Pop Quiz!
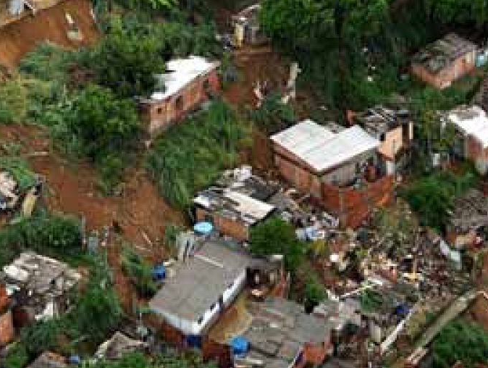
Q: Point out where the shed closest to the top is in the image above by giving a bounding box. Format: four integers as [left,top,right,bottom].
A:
[224,7,268,49]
